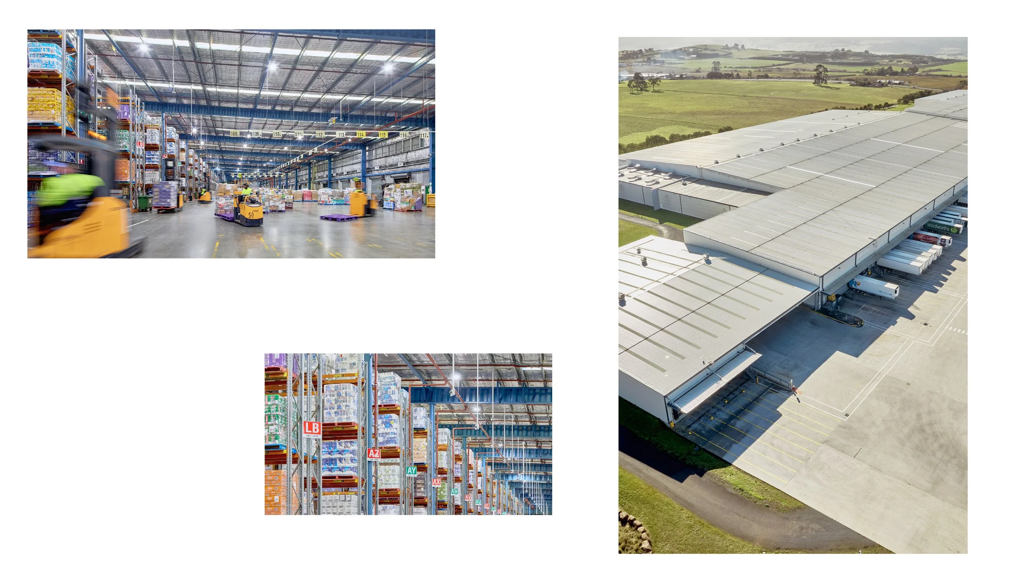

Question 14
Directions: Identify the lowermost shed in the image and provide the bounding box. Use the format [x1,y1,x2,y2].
[618,235,826,429]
